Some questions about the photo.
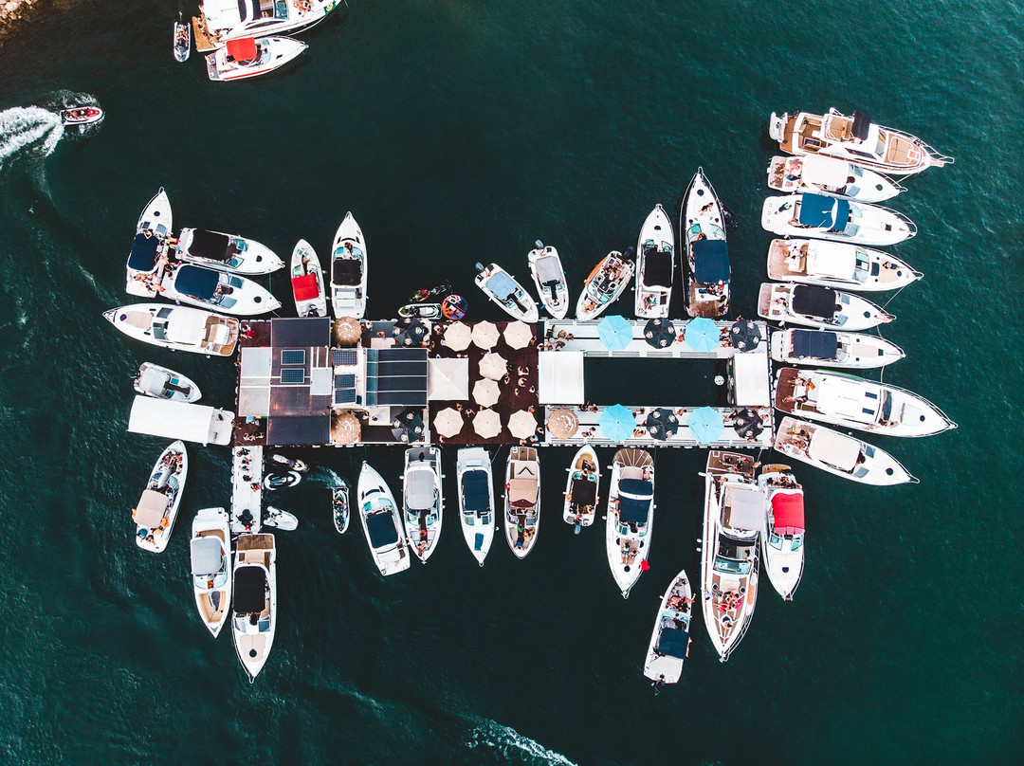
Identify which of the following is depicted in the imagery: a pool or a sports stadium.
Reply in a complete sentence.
This aerial view contains a pool.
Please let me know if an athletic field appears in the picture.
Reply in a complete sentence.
No, there appears to be no athletic field in this shot.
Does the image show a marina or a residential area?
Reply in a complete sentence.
This image shows a marina.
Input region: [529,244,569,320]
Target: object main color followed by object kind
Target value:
white boat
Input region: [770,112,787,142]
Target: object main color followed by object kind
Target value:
white boat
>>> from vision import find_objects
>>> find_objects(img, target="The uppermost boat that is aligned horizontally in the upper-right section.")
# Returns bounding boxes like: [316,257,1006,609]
[773,113,953,177]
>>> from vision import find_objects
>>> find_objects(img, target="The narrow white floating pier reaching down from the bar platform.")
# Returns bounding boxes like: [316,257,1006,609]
[230,445,265,532]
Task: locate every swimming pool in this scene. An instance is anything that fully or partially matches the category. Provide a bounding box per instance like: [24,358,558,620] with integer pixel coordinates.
[585,353,727,407]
